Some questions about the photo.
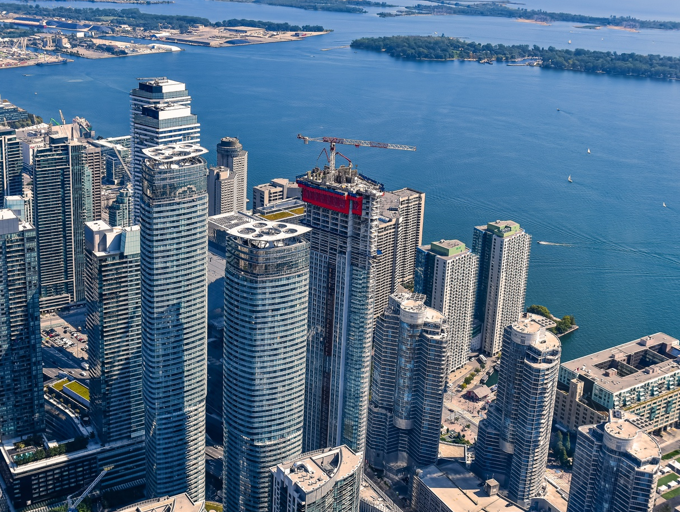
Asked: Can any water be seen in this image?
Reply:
Yes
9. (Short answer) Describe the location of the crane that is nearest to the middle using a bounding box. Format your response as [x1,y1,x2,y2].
[302,131,409,186]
